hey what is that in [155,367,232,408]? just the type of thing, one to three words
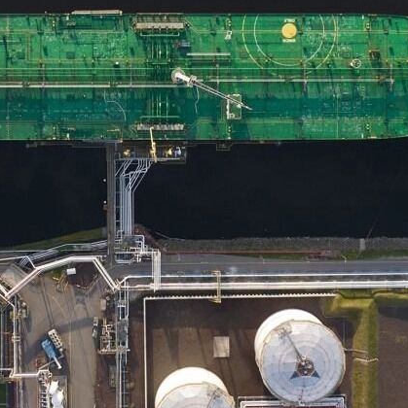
storage tank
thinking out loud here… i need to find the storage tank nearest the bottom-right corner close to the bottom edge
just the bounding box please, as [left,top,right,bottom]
[254,309,345,408]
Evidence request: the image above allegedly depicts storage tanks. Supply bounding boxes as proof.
[155,367,232,408]
[254,309,345,408]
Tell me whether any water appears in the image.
Yes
